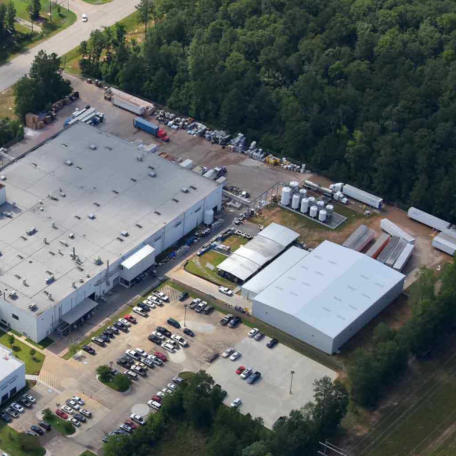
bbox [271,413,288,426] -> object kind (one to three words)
vehicle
